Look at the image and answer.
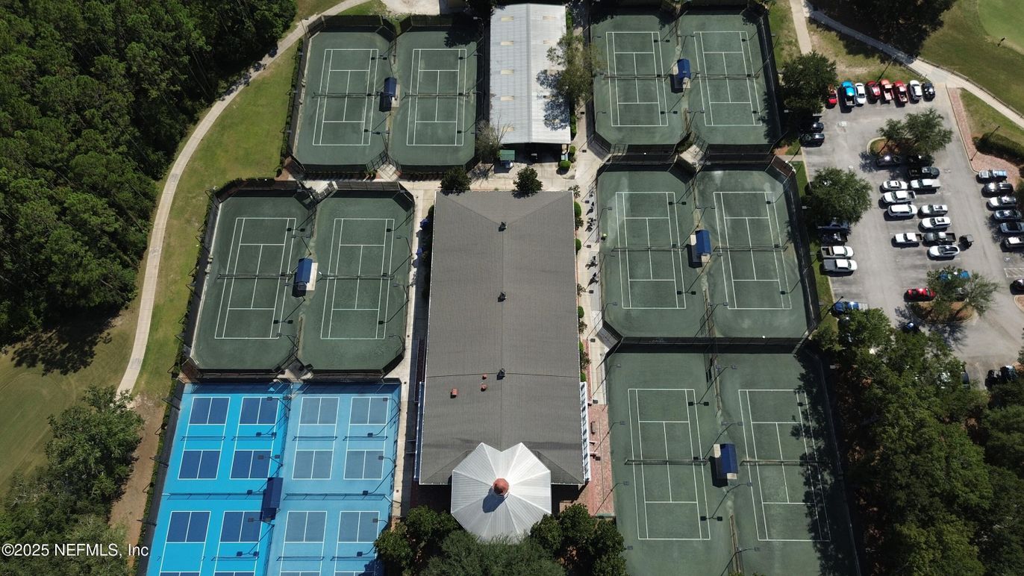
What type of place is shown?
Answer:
sports ground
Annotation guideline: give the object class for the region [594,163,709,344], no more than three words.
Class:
tennis court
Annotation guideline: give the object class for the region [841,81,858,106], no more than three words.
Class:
vehicle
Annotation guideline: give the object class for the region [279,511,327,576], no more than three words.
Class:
sports court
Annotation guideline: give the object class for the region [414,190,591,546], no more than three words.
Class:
building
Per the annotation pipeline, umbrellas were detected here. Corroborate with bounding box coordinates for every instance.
[413,247,427,260]
[418,218,431,231]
